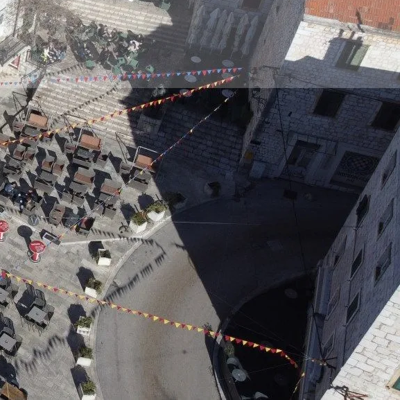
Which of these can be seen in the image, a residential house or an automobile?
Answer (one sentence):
I can see a residential house in this picture.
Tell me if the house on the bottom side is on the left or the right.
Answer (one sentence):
The house on the bottom side is on the right side of the image.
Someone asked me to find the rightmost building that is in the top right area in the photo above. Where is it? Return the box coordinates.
[248,0,400,196]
